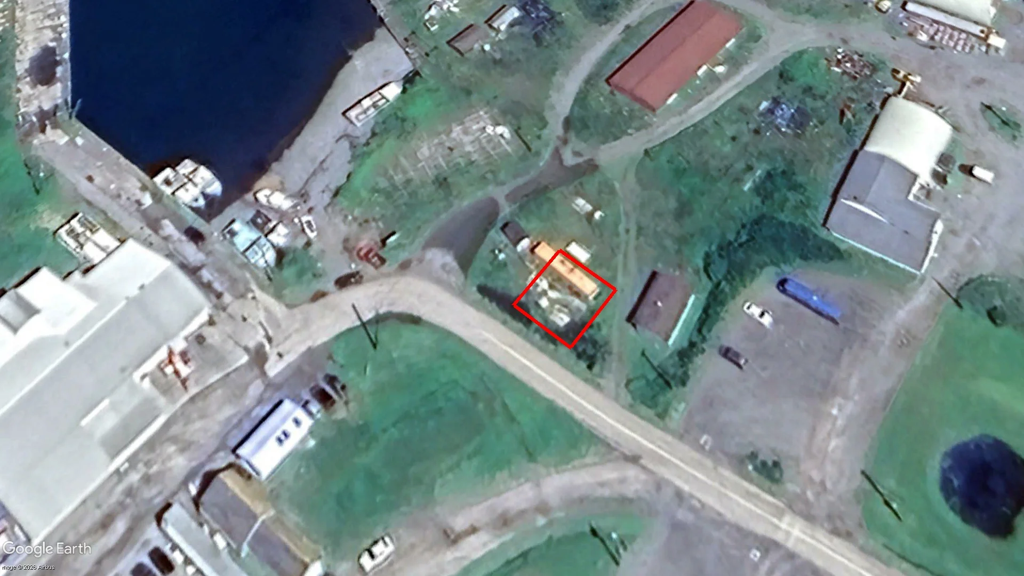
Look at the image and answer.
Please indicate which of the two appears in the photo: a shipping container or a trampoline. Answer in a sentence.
Visible in the photo is a shipping container.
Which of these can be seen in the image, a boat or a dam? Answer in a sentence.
It is a boat that can be seen here.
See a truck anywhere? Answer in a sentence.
Yes, looking at the shot, I can spot a truck.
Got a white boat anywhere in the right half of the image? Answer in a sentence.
No, there is no white boat in the right half of the image.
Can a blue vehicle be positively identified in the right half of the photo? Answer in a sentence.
Yes, there is a blue vehicle in the right half of the photo.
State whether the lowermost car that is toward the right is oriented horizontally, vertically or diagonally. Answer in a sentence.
In this picture, the lowermost car that is toward the right is oriented diagonally.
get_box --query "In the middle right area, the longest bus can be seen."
[776,275,844,328]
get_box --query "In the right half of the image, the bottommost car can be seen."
[718,345,752,372]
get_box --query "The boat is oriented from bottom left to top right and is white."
[347,81,408,127]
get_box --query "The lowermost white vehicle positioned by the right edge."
[969,160,999,189]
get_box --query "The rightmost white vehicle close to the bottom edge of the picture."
[357,537,397,570]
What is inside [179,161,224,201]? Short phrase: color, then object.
white boat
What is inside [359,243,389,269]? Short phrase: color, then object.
red work vehicle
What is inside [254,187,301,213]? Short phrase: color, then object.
white boat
